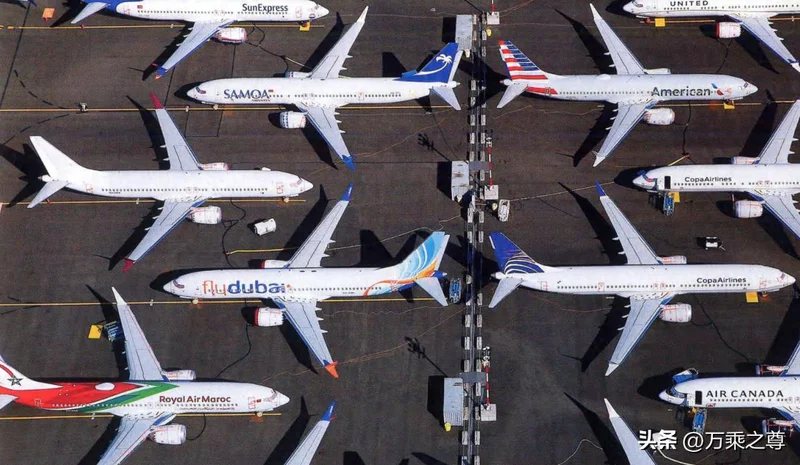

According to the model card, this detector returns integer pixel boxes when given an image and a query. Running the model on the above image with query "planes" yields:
[659,347,800,438]
[602,399,651,465]
[485,181,796,377]
[495,4,758,167]
[163,182,451,378]
[28,92,312,271]
[625,0,800,67]
[633,98,800,238]
[0,288,289,465]
[290,400,337,465]
[71,0,329,80]
[186,7,465,170]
